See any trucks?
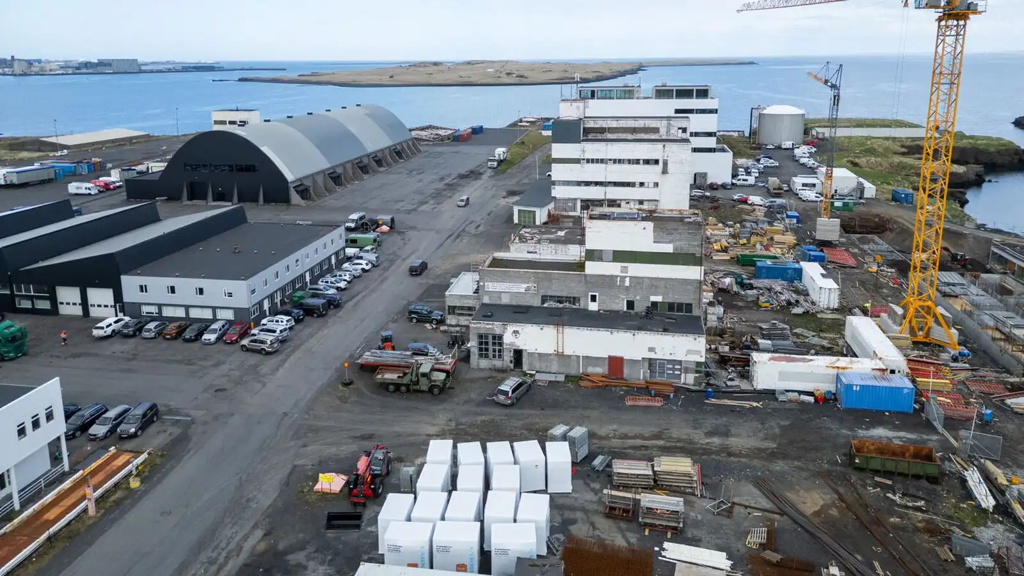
Yes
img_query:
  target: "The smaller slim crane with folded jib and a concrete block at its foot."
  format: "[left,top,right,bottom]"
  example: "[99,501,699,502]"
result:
[803,51,851,246]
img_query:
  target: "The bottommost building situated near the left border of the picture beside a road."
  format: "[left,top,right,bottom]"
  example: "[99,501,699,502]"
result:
[0,374,74,522]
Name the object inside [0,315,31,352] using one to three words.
truck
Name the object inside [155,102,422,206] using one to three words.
hangar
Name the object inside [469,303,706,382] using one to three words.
building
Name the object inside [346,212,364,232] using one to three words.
vehicle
